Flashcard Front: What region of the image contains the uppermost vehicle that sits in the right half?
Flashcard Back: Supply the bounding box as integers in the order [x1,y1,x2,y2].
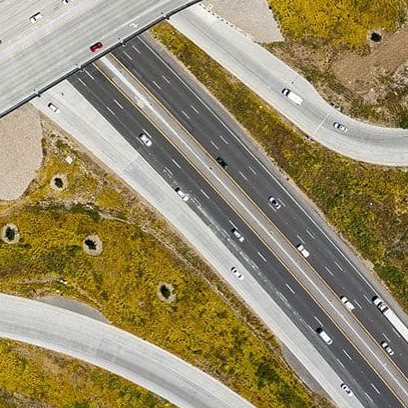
[282,88,303,106]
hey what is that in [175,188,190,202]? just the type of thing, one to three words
vehicle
